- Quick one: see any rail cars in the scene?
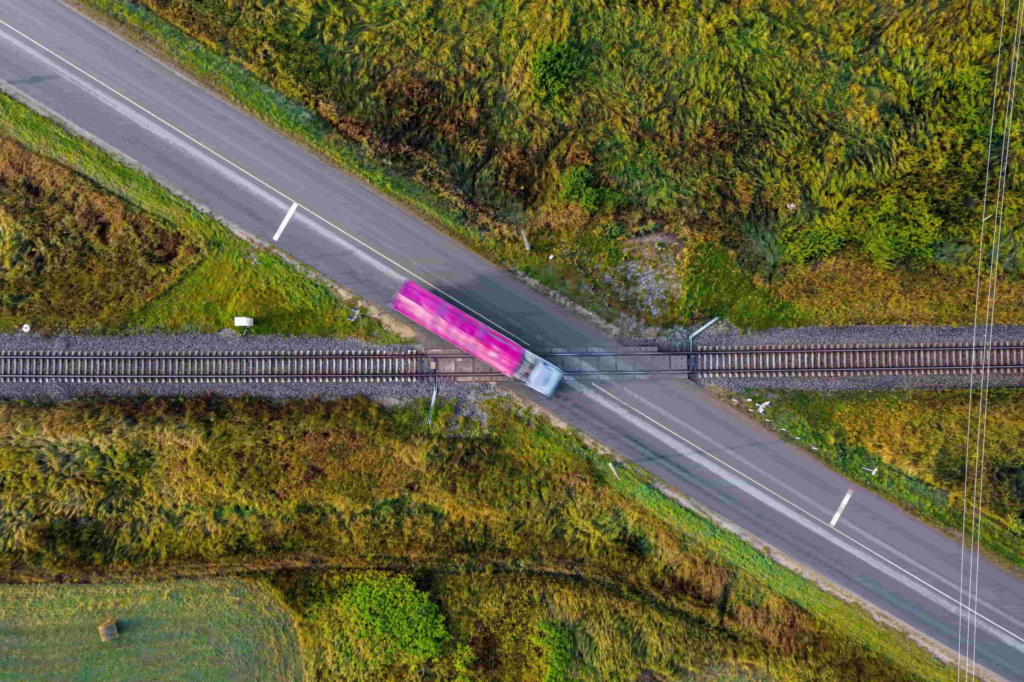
No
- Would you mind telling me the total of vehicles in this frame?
1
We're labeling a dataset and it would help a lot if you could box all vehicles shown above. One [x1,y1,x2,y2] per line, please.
[391,278,563,400]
